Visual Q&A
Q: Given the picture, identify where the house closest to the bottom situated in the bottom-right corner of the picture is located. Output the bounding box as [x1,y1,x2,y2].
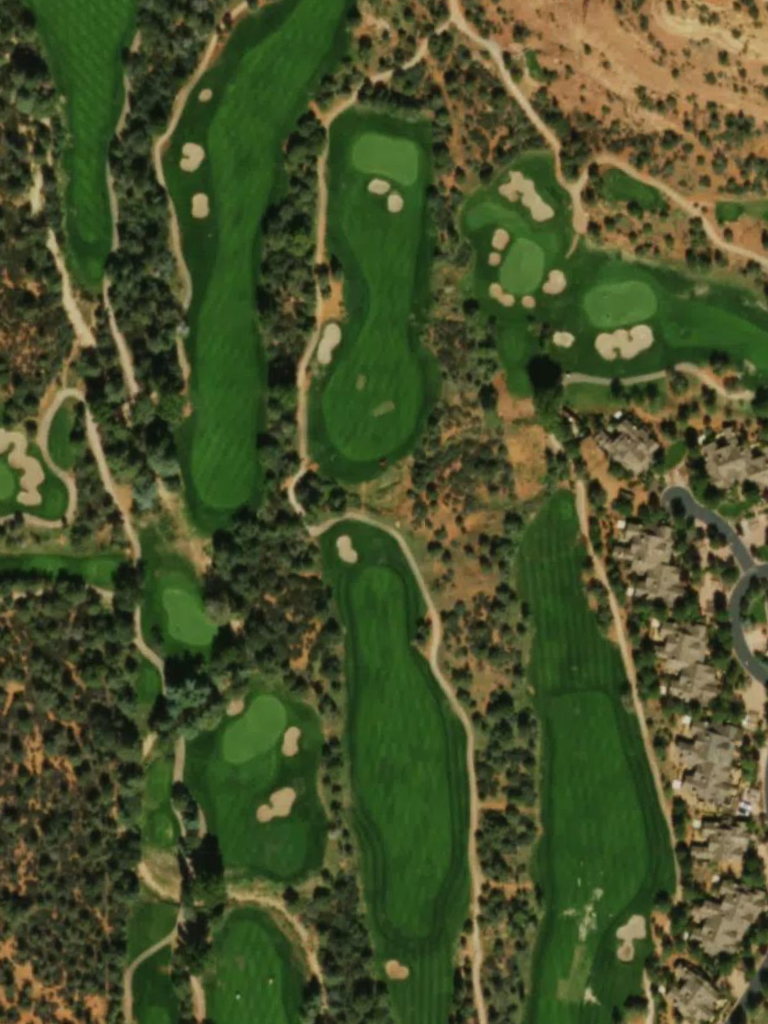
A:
[666,965,723,1024]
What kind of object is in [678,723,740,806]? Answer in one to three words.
house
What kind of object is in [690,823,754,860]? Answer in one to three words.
house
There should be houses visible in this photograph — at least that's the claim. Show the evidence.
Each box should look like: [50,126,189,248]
[697,882,768,960]
[690,823,754,860]
[678,723,740,806]
[654,623,721,703]
[699,424,768,489]
[612,523,690,607]
[592,418,663,478]
[666,965,723,1024]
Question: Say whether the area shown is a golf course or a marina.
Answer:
golf course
